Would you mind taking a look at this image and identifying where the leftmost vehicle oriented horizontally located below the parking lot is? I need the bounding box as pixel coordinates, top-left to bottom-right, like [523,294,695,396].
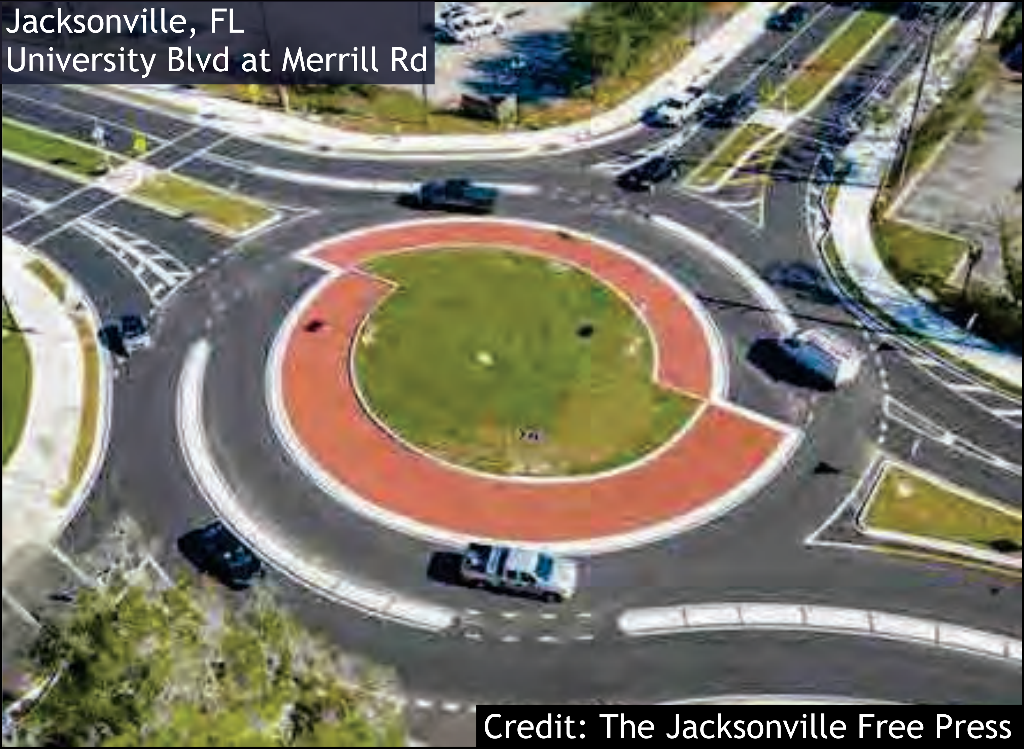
[422,176,493,207]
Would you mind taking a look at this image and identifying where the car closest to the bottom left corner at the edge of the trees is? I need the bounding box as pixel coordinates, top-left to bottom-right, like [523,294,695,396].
[187,518,271,589]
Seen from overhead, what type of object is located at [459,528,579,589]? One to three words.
truck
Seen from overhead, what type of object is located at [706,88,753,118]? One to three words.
truck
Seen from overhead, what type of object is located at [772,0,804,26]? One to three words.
car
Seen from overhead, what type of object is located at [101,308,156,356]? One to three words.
car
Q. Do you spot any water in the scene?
No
